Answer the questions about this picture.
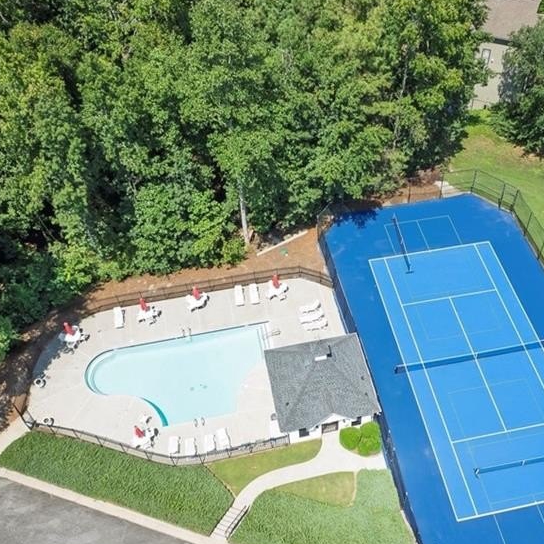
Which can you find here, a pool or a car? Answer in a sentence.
It is a pool that can be seen here.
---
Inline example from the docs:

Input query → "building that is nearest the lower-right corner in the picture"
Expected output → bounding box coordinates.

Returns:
[264,333,382,443]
